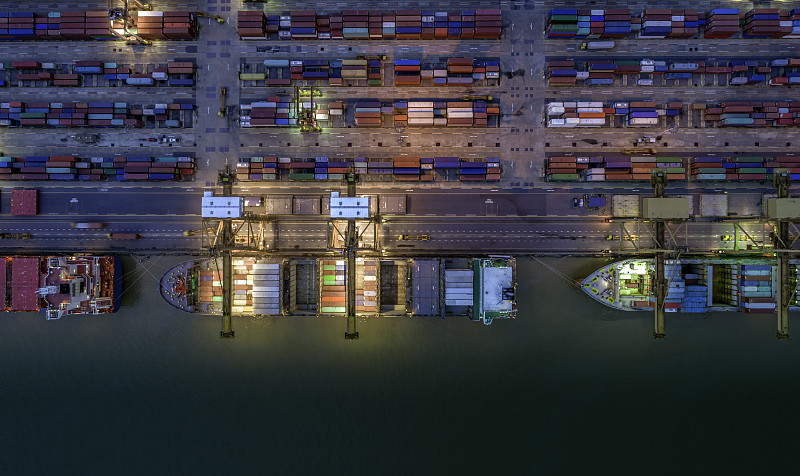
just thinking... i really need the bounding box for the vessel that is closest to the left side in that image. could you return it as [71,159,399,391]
[0,256,126,320]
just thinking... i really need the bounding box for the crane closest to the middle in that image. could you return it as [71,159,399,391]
[325,164,384,341]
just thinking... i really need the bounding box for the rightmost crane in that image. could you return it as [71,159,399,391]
[721,165,800,341]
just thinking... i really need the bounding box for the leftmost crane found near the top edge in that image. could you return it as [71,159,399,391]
[105,0,151,43]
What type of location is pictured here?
port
